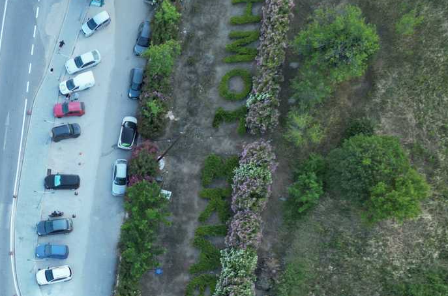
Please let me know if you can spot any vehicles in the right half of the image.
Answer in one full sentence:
No, I see no vehicle in the right half of the image.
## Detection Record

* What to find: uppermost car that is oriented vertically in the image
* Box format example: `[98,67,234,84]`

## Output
[131,21,151,56]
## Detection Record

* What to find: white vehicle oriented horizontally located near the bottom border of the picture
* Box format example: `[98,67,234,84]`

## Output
[36,267,73,284]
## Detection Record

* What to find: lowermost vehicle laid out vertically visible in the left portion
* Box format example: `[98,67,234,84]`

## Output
[111,160,127,195]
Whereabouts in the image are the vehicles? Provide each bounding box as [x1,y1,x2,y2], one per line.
[68,92,81,100]
[111,160,127,195]
[119,117,137,151]
[50,122,82,141]
[53,101,86,118]
[44,172,81,190]
[36,219,73,236]
[59,71,96,96]
[49,211,63,216]
[131,21,151,56]
[36,243,69,259]
[64,51,102,75]
[126,68,143,100]
[36,267,73,284]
